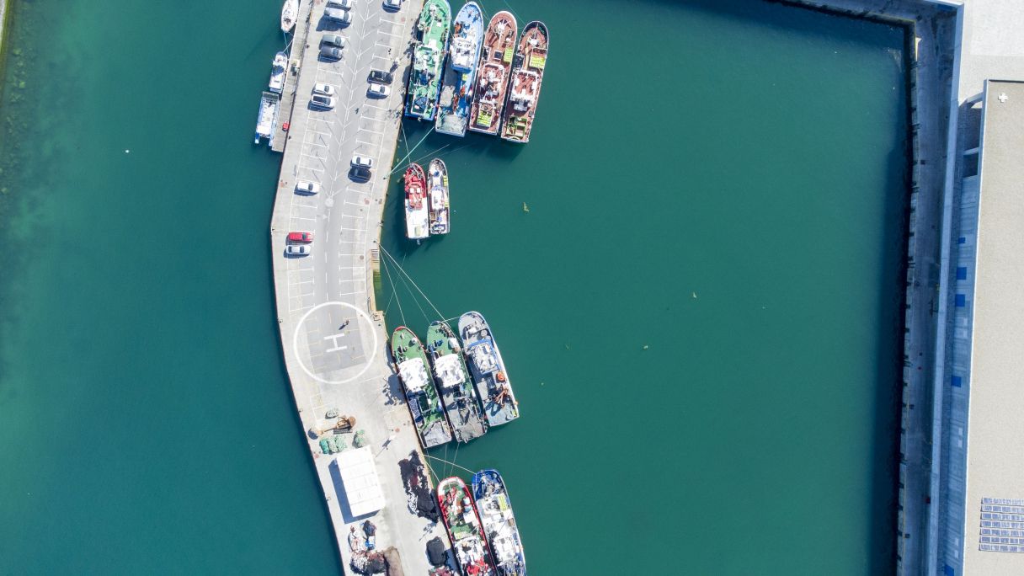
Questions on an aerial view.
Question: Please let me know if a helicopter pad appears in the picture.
Yes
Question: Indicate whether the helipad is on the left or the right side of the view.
left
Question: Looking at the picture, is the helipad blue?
No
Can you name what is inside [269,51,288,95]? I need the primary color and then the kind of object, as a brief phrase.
white boat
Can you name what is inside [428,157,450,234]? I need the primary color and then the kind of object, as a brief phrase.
white boat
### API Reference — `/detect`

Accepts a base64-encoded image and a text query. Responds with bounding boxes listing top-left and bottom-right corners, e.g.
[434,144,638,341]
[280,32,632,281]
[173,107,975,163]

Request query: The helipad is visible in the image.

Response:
[294,302,377,384]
